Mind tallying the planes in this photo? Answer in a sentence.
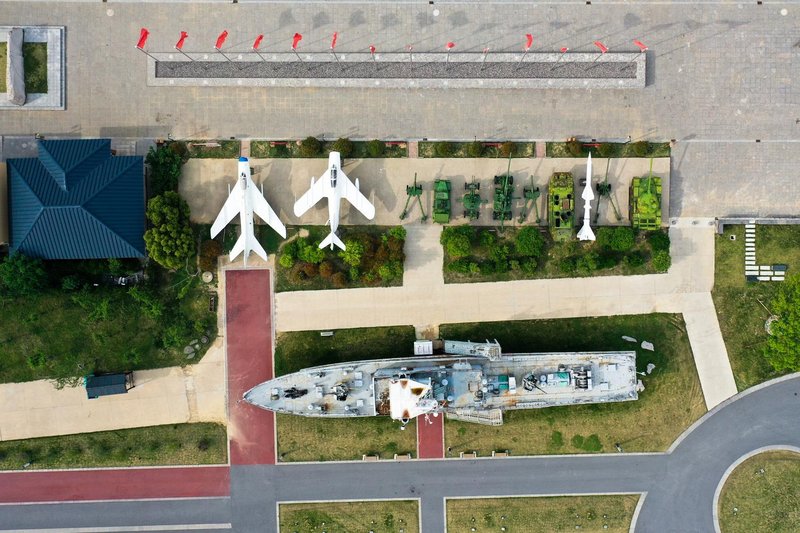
I count 2 planes.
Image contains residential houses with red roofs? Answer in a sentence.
No, no residential house with a red roof is visible in the view.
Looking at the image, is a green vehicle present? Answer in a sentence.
Yes, a green vehicle appears in the view.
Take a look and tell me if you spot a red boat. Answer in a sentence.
No, no red boat can be seen from above.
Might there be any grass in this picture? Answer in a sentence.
Yes, the picture does contain grass.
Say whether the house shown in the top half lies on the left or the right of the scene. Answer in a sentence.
The house shown in the top half sits on the left side.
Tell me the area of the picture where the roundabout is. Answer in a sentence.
Look in the bottom right portion of the view to spot the roundabout.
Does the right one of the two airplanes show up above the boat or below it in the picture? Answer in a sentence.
You can see the right one of the two airplanes above the boat in the frame.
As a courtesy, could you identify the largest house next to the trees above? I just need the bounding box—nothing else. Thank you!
[6,138,145,259]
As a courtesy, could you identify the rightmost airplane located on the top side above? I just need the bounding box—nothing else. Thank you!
[295,150,375,251]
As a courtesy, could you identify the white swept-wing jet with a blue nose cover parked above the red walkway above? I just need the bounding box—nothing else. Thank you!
[210,154,282,264]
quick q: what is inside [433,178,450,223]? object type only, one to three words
car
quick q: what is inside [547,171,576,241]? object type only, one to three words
vehicle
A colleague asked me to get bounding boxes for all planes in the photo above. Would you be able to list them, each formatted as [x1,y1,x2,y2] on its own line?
[210,154,282,264]
[295,150,375,251]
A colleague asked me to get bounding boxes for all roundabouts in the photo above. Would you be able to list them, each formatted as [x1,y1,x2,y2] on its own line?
[634,378,800,533]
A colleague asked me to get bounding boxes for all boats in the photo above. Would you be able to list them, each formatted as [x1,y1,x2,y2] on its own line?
[243,349,646,426]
